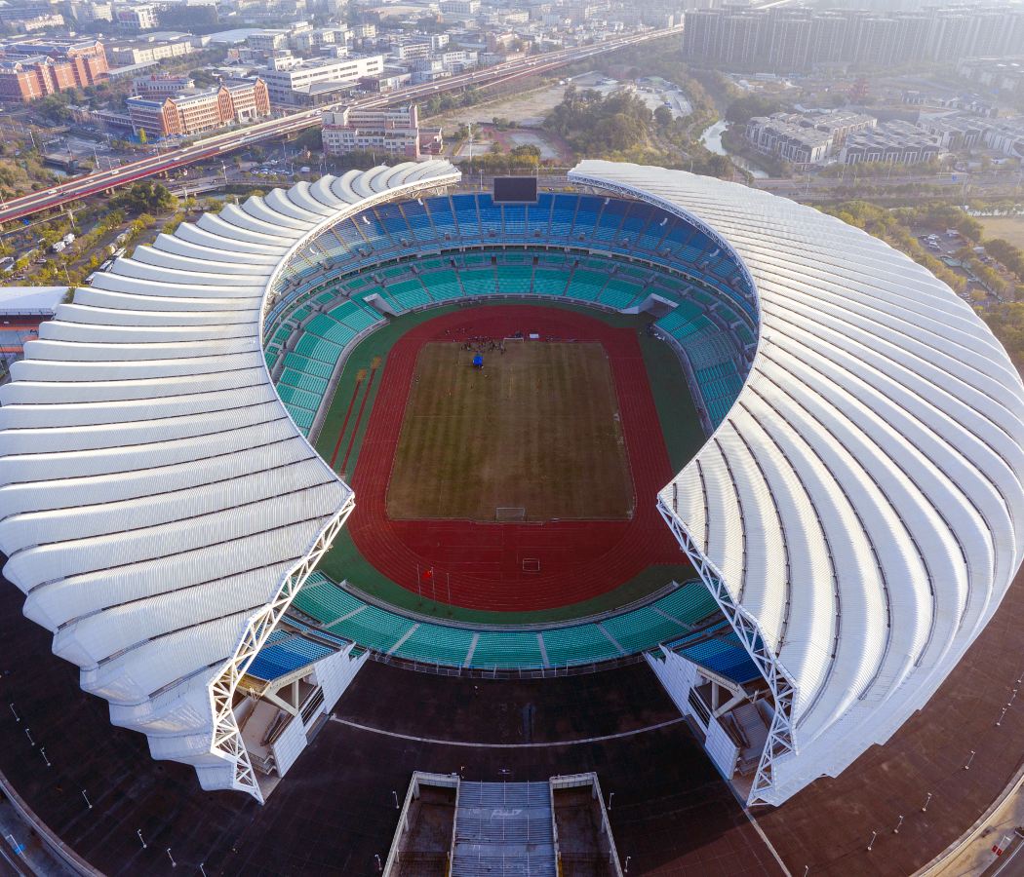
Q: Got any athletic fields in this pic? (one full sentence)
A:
Yes, you can see an athletic field in this photo.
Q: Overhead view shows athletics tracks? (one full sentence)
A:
Yes, the picture does show an athletics track.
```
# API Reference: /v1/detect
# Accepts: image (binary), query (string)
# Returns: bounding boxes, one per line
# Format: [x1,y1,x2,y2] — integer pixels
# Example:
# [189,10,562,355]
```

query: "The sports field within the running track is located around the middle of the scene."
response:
[387,341,631,520]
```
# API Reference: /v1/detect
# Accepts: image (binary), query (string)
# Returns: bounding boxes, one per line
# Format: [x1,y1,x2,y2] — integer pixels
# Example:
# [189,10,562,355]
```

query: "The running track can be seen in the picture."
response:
[350,305,690,612]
